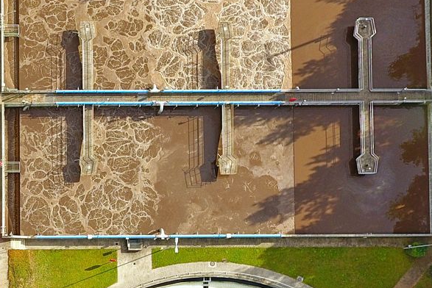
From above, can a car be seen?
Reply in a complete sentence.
No, the photo shows no car.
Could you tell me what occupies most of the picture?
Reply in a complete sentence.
The scene is dominated by water.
